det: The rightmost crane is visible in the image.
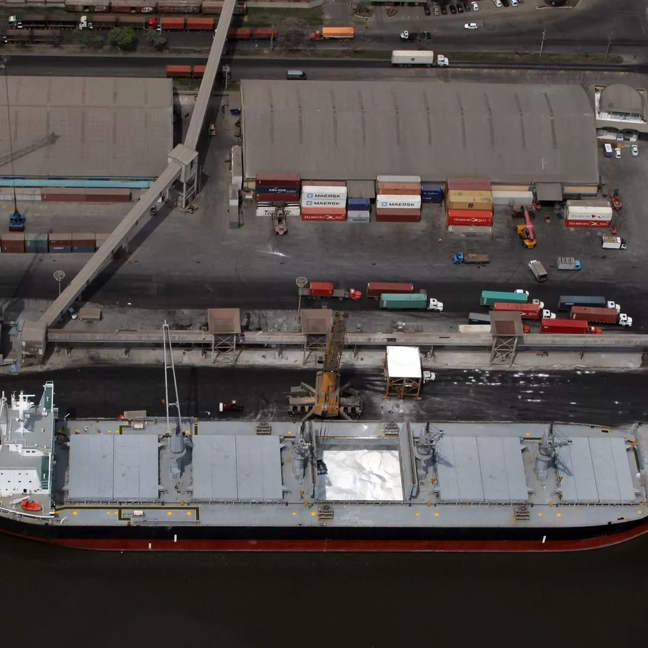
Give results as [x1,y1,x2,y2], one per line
[531,422,574,490]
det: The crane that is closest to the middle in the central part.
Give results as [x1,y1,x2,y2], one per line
[292,314,361,421]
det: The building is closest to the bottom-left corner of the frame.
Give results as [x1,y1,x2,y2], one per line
[22,310,47,356]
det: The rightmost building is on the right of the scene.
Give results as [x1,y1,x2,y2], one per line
[596,83,648,144]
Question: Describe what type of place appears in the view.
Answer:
port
